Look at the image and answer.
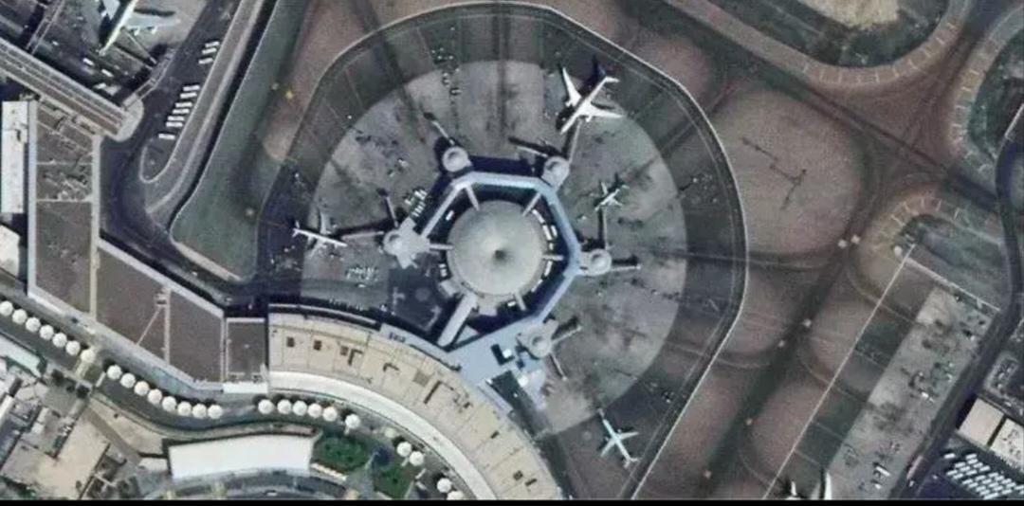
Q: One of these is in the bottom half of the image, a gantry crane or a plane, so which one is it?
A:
plane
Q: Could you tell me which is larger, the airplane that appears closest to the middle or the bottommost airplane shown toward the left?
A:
the bottommost airplane shown toward the left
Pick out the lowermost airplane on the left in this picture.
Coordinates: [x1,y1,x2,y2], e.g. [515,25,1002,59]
[289,212,348,259]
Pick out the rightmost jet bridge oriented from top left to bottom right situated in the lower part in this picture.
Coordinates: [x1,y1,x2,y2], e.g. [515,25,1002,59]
[547,352,569,379]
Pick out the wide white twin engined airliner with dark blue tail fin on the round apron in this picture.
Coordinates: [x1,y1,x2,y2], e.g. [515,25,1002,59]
[561,68,625,134]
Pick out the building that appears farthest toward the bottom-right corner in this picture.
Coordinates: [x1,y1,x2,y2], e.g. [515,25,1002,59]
[989,419,1024,471]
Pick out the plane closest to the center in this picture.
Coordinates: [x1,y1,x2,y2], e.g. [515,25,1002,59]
[595,179,628,210]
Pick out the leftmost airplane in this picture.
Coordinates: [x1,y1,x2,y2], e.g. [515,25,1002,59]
[101,0,179,54]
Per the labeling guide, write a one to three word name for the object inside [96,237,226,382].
building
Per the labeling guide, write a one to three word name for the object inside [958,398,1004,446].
building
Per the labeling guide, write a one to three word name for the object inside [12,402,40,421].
house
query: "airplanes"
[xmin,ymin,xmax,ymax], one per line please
[561,68,625,134]
[289,212,348,259]
[101,0,179,54]
[600,419,637,464]
[595,179,628,210]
